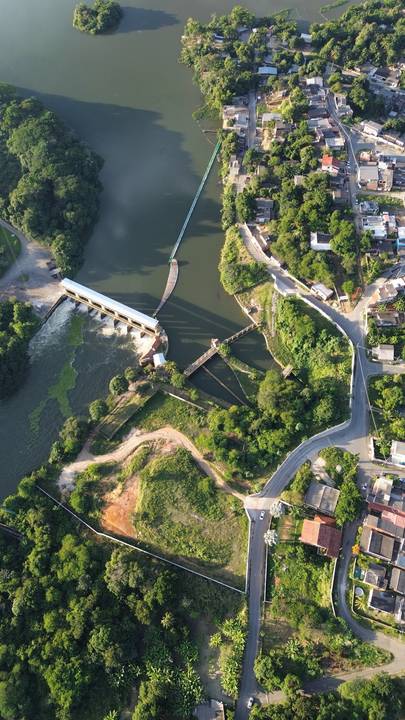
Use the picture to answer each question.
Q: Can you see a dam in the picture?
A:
Yes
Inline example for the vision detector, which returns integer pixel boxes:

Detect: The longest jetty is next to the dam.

[154,260,179,321]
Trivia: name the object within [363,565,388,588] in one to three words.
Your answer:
house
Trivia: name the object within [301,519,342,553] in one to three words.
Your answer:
house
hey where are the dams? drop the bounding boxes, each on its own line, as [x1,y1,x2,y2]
[58,277,162,348]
